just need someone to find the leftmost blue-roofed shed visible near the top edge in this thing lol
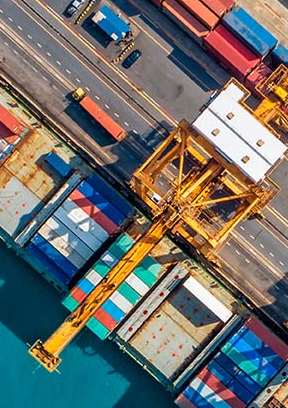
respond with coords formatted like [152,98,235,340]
[92,5,132,44]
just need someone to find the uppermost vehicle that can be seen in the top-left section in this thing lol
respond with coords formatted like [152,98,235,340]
[67,0,89,16]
